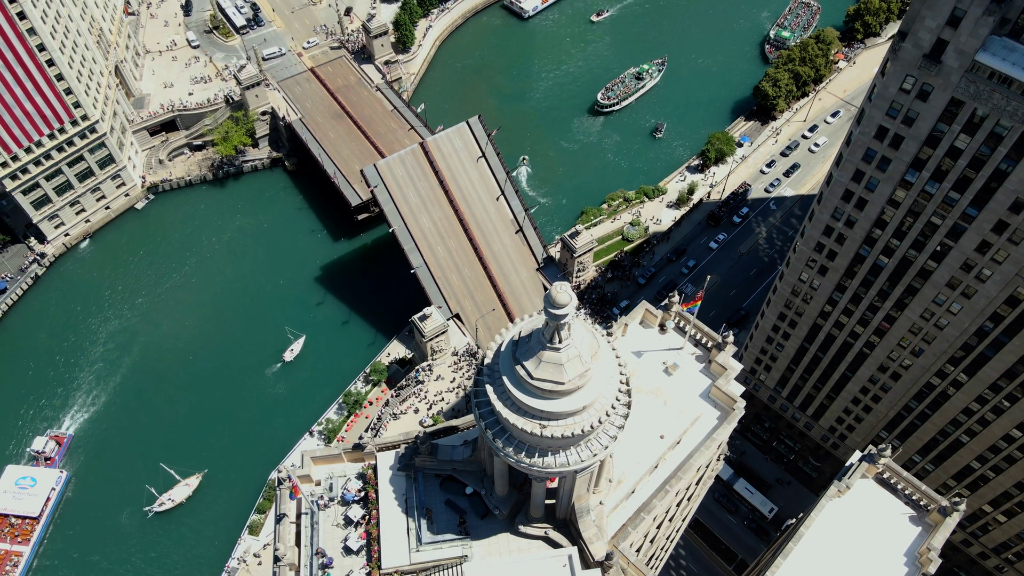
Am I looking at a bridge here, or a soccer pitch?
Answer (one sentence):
Looking from above, you can make out a bridge.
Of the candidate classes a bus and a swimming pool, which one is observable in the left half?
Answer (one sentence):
There is a bus in the left half.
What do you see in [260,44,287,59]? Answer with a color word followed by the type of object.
white vehicle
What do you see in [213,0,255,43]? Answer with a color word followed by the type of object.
white bus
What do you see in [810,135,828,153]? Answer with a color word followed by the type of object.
white car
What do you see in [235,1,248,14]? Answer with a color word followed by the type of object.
white vehicle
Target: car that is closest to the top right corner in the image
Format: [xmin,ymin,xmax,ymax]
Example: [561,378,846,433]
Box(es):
[824,108,842,124]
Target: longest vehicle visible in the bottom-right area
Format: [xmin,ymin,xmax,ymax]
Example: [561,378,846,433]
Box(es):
[710,459,780,528]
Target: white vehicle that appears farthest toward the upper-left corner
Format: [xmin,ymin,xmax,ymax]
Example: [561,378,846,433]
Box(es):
[185,30,199,47]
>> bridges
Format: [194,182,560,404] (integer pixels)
[276,52,557,356]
